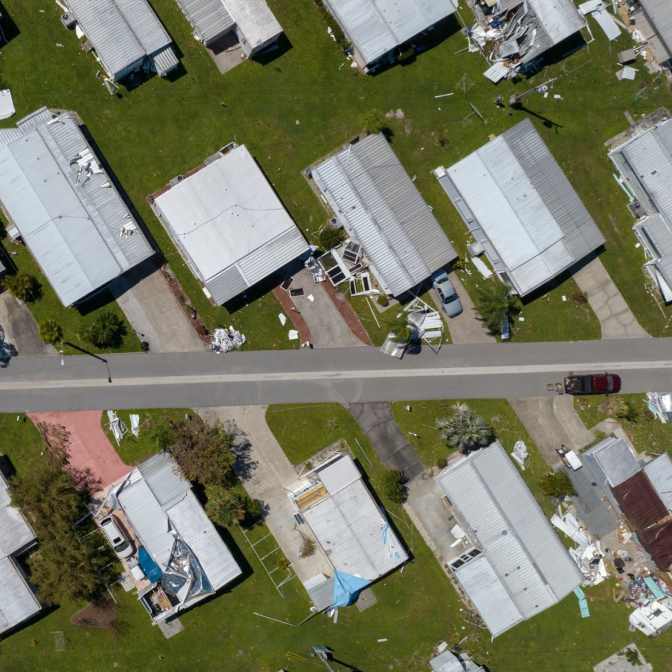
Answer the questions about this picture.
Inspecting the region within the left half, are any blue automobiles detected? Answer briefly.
No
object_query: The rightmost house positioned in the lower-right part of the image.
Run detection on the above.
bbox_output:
[574,435,672,600]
